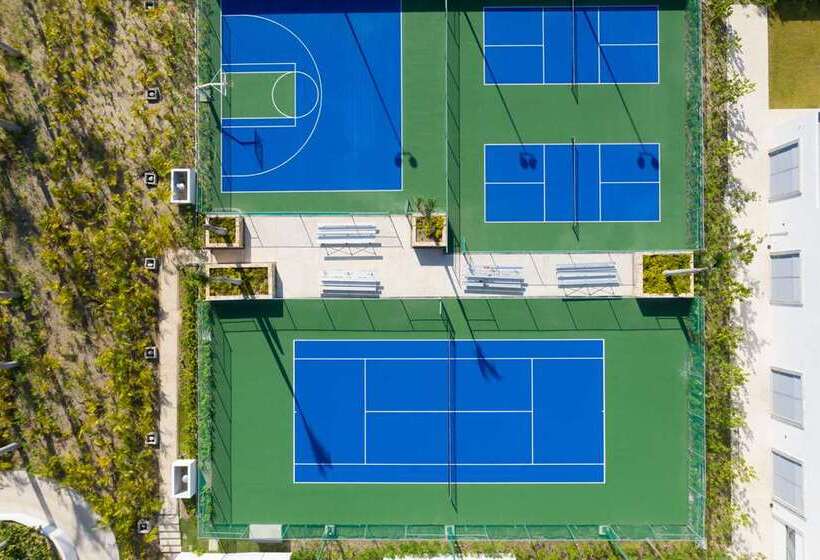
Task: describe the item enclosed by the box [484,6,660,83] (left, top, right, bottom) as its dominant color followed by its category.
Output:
blue sports court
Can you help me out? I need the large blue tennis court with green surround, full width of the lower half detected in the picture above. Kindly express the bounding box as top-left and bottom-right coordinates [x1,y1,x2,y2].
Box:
[199,300,704,539]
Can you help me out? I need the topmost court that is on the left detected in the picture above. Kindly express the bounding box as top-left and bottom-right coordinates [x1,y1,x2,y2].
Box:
[199,0,446,216]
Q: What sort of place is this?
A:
sports ground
